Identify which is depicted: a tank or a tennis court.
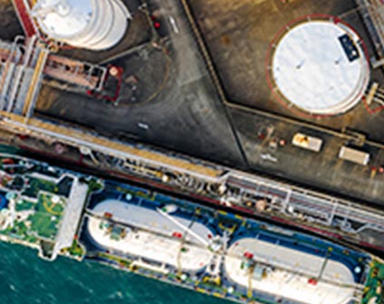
tank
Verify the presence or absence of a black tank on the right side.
No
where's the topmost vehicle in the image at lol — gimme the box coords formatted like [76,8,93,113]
[290,132,322,151]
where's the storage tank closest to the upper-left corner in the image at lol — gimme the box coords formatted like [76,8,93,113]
[35,0,125,54]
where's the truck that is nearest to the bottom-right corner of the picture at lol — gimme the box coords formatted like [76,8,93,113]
[336,145,370,166]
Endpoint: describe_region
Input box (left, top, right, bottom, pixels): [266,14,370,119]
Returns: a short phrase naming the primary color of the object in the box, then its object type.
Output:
white storage tank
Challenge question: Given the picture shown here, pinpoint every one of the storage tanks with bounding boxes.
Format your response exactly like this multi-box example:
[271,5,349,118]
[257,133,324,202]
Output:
[266,14,370,119]
[35,0,125,54]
